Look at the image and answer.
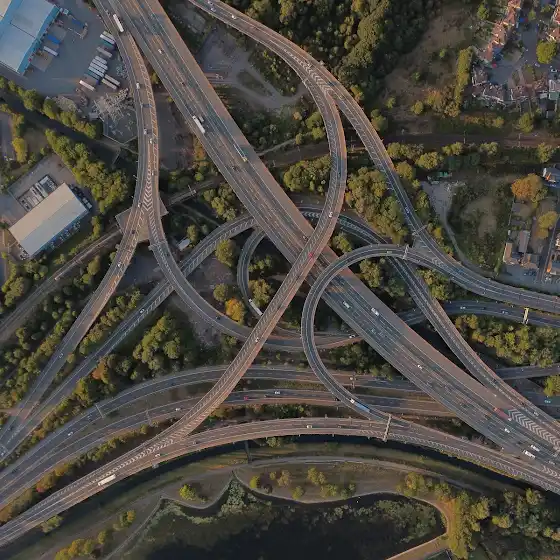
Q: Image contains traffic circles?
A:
No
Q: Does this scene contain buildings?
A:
Yes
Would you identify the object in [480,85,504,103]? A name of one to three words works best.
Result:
house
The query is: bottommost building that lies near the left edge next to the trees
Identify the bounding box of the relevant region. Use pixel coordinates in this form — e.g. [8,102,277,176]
[9,183,91,256]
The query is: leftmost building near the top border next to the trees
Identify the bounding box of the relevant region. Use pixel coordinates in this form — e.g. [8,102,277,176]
[0,0,66,76]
